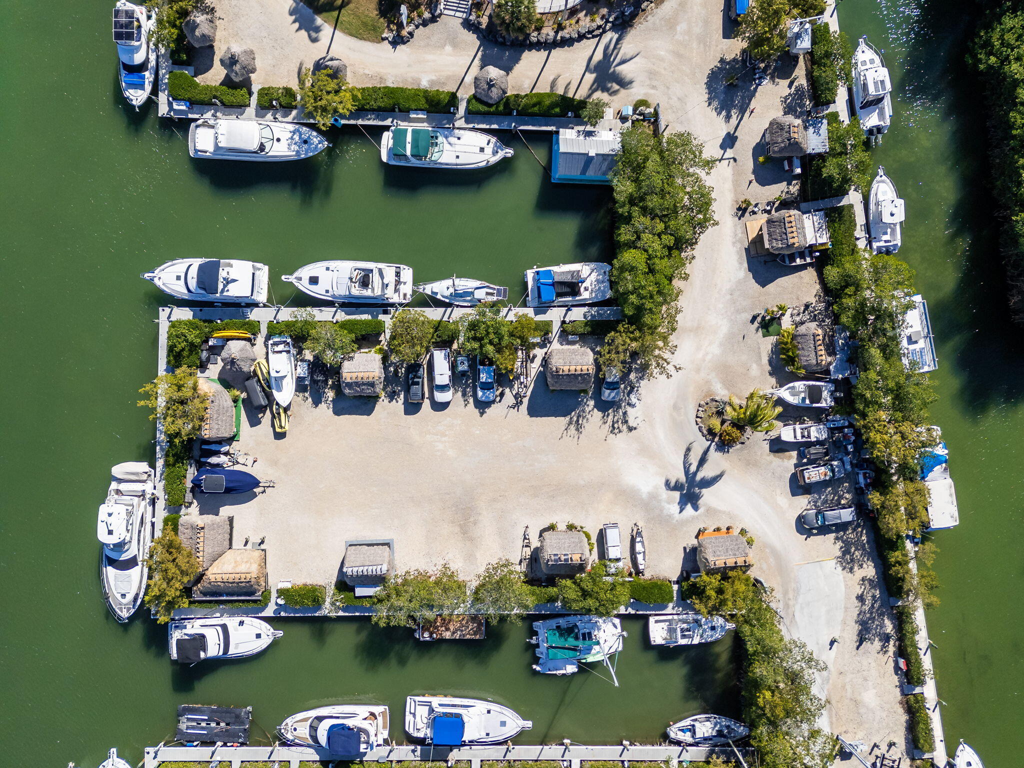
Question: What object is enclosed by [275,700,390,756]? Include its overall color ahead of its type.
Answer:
white boat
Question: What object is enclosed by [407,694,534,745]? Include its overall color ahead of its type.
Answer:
white boat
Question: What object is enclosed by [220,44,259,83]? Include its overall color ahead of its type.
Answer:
gray umbrella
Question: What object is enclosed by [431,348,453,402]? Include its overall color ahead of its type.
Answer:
white truck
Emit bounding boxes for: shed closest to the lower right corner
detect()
[694,532,754,575]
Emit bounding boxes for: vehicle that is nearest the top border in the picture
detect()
[728,0,752,22]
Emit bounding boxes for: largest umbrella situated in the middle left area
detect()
[222,336,258,377]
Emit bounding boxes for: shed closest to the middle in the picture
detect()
[545,346,597,392]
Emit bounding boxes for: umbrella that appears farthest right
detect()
[471,67,510,105]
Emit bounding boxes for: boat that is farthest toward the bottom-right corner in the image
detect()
[947,736,980,768]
